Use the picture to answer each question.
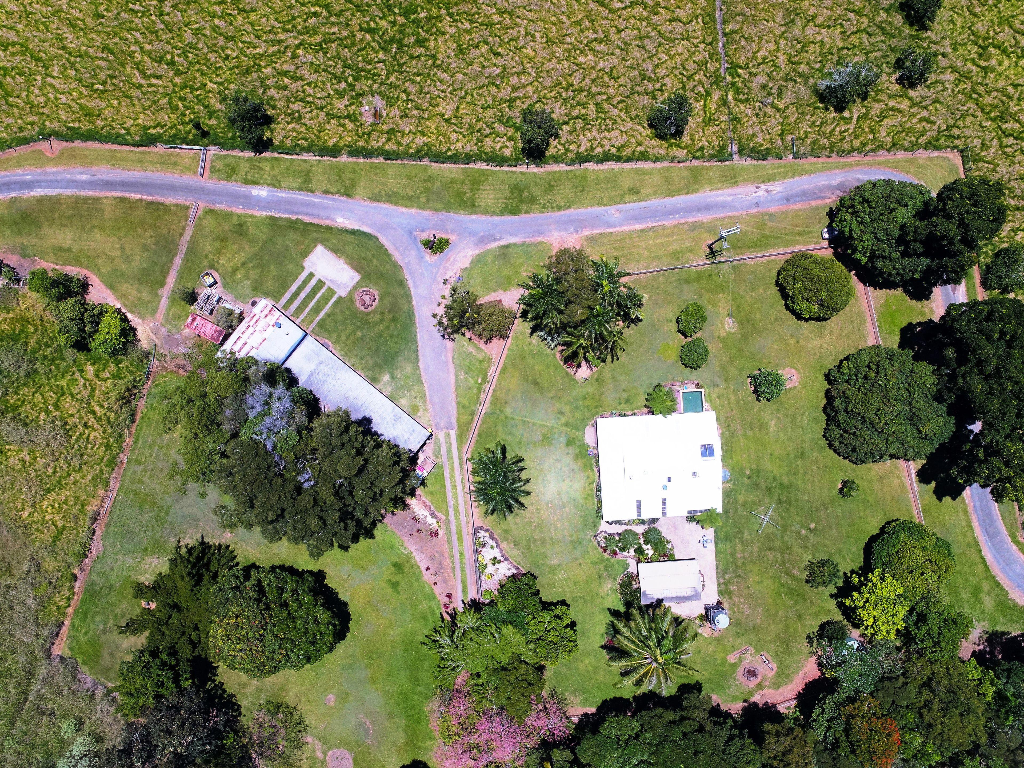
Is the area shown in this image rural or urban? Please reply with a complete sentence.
The land in this view is best described as rural.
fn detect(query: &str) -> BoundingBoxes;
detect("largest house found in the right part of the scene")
[595,411,723,520]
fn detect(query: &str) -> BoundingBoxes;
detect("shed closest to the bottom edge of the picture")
[635,555,701,605]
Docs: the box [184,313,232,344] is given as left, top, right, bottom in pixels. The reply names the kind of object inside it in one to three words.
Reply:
shed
